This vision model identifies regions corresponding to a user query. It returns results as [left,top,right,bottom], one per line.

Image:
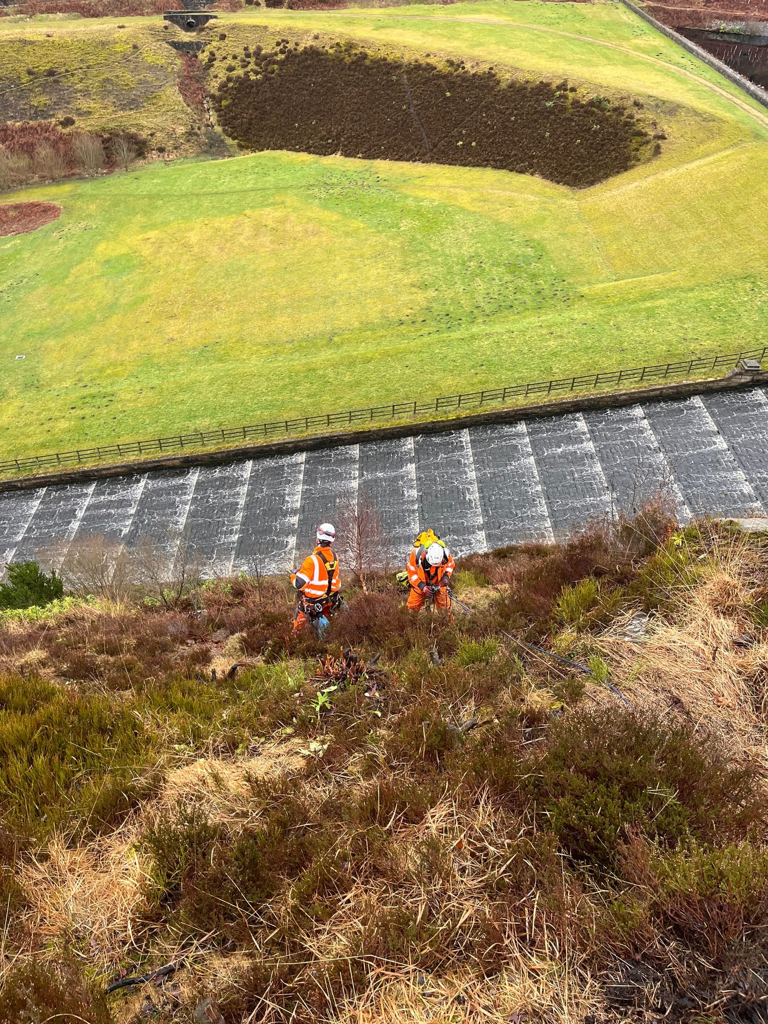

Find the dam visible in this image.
[163,34,213,53]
